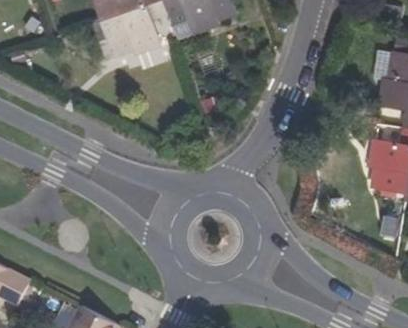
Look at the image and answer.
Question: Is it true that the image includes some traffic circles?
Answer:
Yes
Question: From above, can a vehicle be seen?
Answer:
Yes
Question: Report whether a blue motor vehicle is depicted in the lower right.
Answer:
Yes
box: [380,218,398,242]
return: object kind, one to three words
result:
shed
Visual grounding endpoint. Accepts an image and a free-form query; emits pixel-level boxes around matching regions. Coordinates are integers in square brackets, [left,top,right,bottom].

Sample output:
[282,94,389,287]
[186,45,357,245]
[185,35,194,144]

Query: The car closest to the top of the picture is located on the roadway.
[306,39,320,64]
